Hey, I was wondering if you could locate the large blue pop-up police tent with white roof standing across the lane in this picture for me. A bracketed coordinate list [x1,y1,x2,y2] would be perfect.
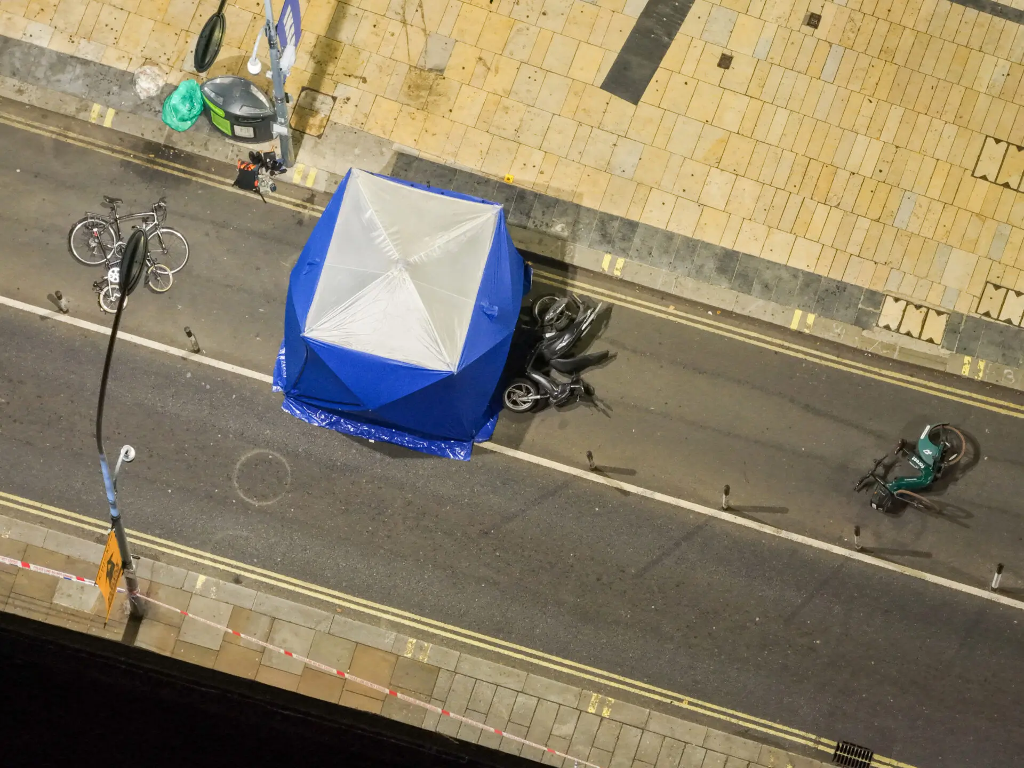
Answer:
[272,168,533,460]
